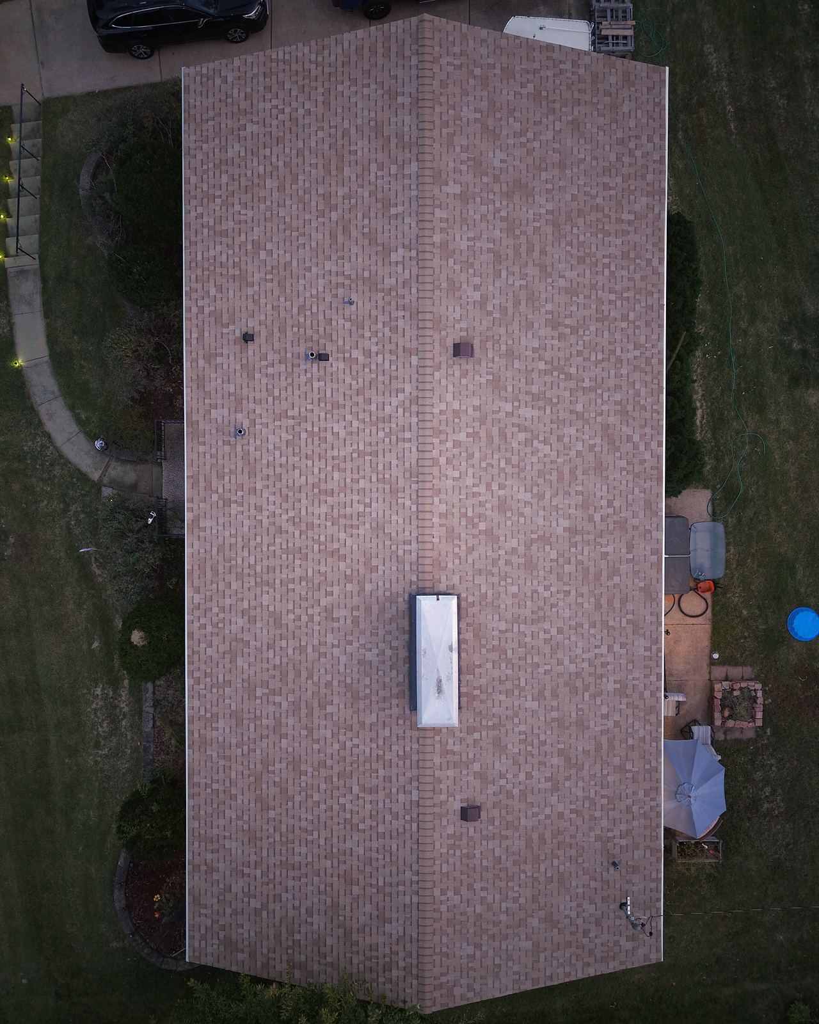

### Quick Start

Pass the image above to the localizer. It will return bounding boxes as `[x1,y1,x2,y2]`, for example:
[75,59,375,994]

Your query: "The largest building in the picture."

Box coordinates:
[181,14,668,1014]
